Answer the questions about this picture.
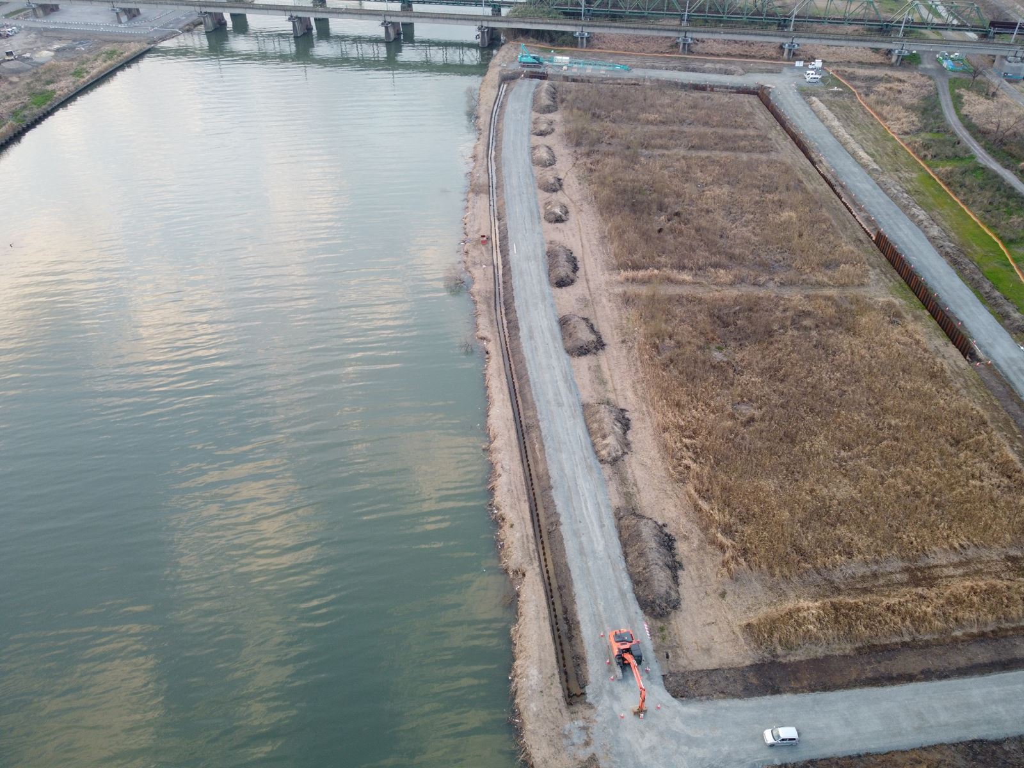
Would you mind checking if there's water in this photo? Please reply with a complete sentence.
Yes, the picture does contain water.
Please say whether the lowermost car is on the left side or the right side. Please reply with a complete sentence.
The lowermost car appears in the right half of the scene.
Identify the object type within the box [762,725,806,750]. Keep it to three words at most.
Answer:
car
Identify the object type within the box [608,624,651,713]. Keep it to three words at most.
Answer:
work vehicle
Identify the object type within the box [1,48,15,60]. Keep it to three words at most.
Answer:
vehicle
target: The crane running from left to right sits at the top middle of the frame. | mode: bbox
[520,40,633,70]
